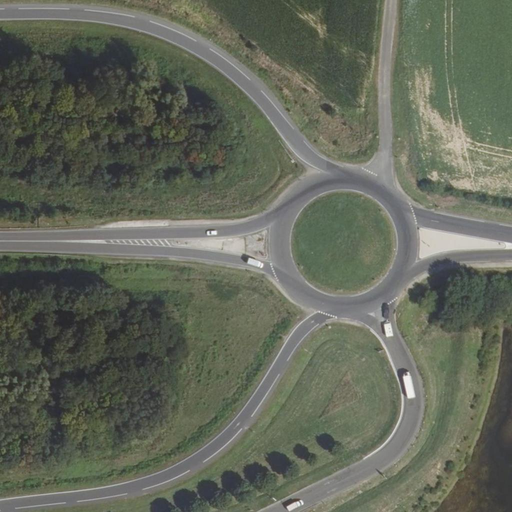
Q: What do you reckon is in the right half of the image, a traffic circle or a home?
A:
traffic circle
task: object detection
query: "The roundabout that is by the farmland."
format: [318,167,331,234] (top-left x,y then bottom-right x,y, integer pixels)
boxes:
[268,168,418,318]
